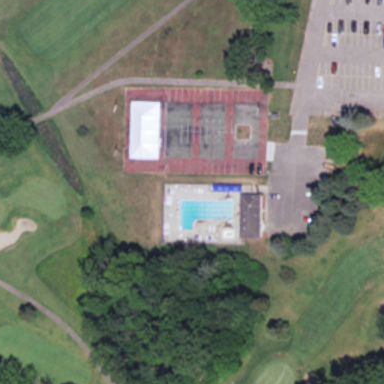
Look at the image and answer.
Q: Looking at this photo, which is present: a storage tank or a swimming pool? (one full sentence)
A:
This aerial view contains a swimming pool.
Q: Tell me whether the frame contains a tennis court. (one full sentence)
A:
Yes, a tennis court can be made out from above.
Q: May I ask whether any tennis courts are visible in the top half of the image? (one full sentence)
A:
Yes, looking in the top half of the image, one can make out a tennis court.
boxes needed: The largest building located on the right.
[240,194,263,238]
